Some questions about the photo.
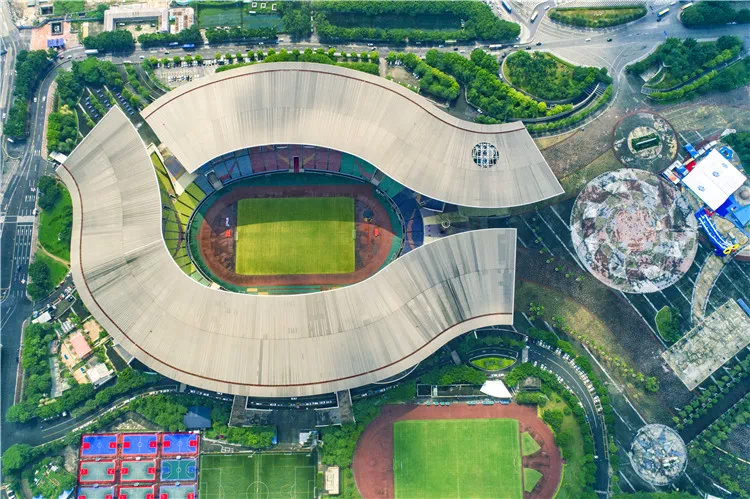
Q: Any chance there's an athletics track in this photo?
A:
Yes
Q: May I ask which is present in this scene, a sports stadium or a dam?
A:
sports stadium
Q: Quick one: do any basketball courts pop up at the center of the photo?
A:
No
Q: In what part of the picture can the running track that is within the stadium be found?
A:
center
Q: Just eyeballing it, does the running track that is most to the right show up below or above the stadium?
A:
below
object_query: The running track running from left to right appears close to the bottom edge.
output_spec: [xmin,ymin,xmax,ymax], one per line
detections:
[352,403,565,499]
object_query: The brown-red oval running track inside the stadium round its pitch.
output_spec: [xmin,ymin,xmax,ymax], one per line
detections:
[198,185,393,287]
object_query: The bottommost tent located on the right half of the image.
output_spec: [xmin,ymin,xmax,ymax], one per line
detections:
[480,380,513,399]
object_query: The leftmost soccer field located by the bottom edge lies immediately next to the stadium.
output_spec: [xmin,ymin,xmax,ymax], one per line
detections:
[199,453,317,499]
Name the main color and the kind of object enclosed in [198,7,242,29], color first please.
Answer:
green sports court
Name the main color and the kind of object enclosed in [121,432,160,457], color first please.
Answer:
blue basketball court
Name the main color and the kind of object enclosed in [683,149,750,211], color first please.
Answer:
white tent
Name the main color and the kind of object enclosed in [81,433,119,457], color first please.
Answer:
blue basketball court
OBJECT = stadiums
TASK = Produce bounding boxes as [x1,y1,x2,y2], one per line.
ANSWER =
[56,62,565,397]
